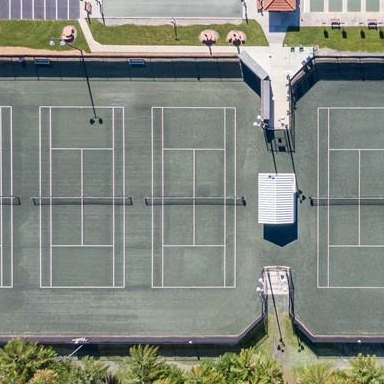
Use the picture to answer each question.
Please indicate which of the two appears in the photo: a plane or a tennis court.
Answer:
tennis court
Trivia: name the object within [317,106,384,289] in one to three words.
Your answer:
tennis court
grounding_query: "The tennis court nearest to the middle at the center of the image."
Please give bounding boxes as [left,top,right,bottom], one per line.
[152,106,236,289]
